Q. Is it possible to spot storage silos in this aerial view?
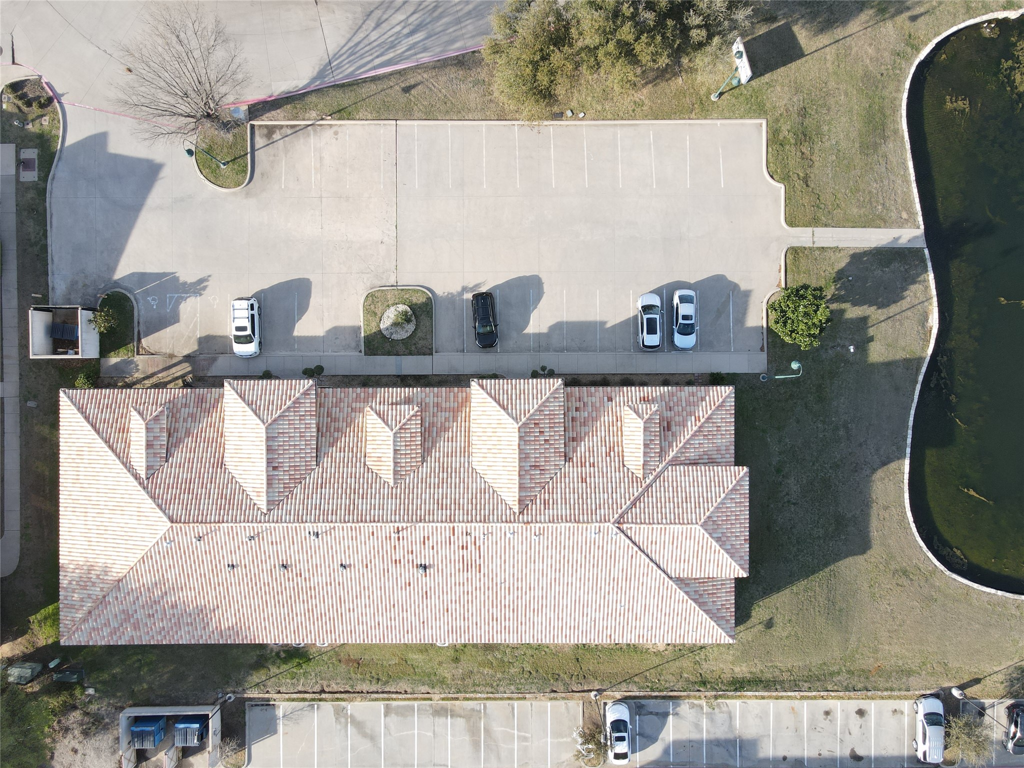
No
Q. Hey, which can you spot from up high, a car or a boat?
car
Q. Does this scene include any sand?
No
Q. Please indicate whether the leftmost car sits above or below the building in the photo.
above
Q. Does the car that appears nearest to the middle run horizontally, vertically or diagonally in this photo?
vertically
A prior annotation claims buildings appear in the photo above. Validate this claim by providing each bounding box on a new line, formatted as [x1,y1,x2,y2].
[57,377,750,646]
